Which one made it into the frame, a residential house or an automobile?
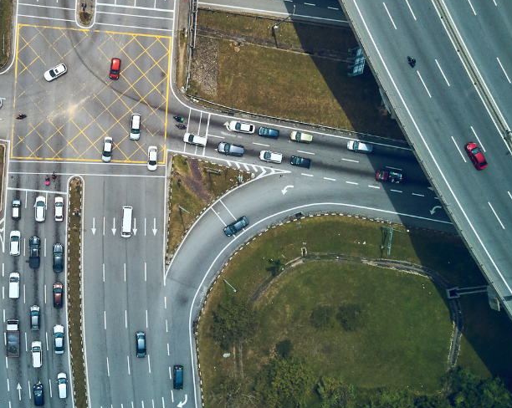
automobile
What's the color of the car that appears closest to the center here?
blue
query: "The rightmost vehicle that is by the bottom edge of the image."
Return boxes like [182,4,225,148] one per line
[172,364,185,389]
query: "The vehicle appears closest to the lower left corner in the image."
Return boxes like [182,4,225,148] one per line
[32,382,45,407]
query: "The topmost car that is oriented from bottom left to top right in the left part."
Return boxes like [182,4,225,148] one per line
[44,63,68,82]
